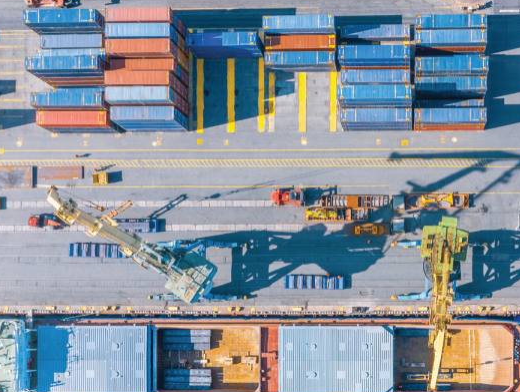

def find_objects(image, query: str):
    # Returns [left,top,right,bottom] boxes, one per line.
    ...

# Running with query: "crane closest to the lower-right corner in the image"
[389,211,491,392]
